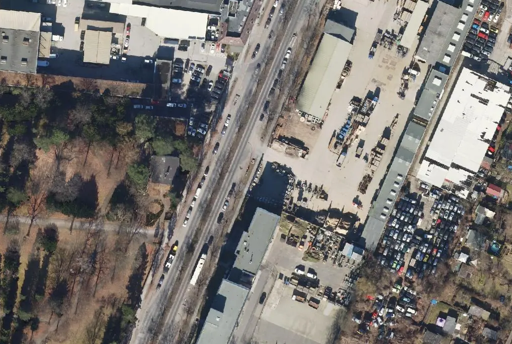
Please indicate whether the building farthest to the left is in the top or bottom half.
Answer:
top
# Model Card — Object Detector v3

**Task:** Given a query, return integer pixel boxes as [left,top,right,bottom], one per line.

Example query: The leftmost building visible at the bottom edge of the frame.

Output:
[194,278,250,344]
